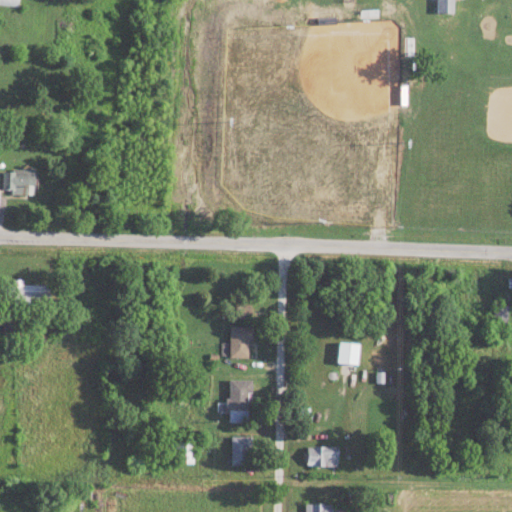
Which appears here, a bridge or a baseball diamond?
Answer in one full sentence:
Looking from above, you can make out a baseball diamond.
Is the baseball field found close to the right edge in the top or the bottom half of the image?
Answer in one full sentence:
You can find the baseball field found close to the right edge in the top half.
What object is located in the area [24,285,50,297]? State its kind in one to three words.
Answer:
house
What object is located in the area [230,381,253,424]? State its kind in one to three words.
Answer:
house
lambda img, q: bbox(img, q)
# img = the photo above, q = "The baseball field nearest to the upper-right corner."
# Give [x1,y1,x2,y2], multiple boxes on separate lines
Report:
[488,86,512,143]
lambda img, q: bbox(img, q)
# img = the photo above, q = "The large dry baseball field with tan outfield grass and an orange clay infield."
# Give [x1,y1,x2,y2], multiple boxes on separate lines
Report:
[224,20,400,227]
